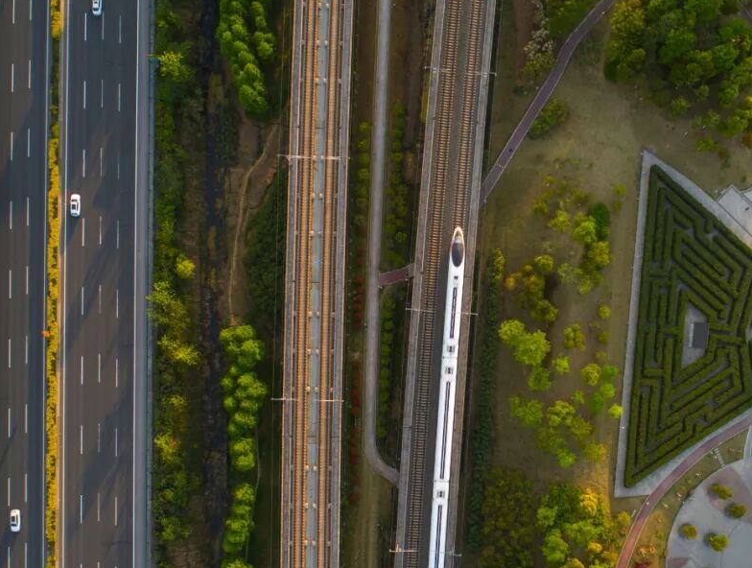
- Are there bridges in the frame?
Yes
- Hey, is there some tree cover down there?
Yes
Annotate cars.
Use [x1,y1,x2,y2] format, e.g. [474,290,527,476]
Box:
[69,195,81,217]
[91,0,102,15]
[9,509,21,532]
